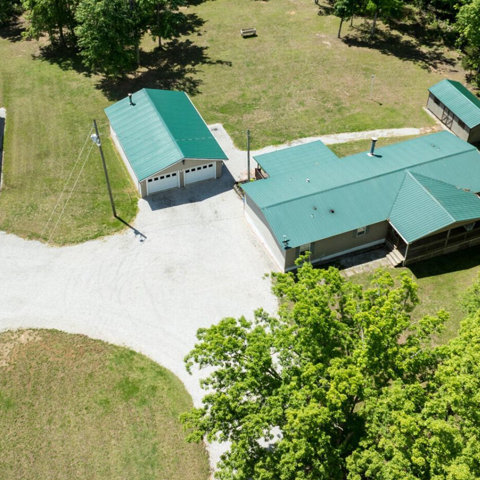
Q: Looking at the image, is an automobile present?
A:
No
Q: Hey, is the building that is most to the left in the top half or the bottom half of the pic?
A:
top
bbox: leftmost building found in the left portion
[106,91,230,199]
